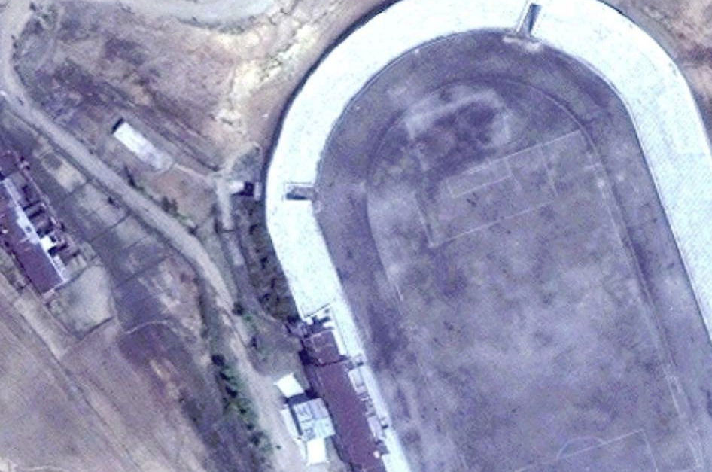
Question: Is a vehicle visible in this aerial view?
No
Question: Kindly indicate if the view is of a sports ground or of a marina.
sports ground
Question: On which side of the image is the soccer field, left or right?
right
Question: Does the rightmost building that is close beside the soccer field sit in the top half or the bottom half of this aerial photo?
bottom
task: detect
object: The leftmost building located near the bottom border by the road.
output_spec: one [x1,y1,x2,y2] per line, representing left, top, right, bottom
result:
[273,372,335,467]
